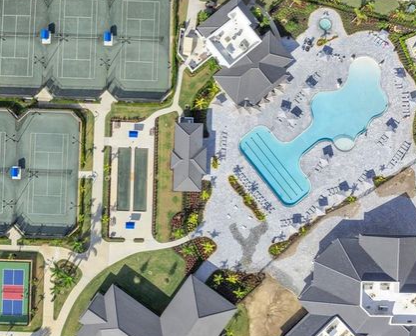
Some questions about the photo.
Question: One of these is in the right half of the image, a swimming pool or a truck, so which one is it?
swimming pool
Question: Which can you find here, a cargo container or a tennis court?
tennis court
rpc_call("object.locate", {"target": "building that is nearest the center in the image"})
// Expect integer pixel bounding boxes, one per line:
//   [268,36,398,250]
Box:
[171,124,207,192]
